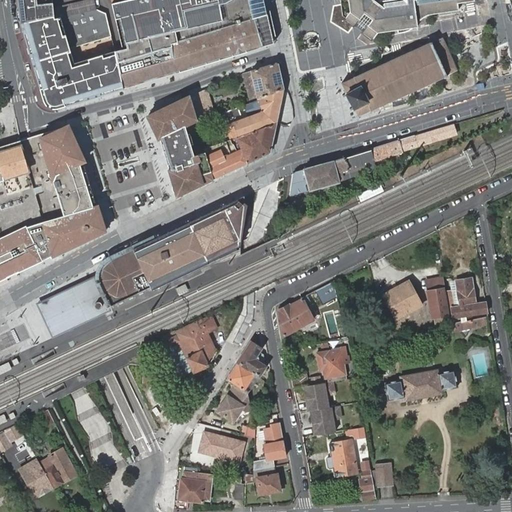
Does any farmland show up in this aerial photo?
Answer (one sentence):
No, the picture contains no farmland.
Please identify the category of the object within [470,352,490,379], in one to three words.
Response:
swimming pool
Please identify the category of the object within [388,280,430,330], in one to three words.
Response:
barn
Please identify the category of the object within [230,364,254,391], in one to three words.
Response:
house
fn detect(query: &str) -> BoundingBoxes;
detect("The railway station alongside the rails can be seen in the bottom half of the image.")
[0,240,276,425]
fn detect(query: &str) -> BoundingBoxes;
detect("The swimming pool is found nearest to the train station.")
[323,310,340,338]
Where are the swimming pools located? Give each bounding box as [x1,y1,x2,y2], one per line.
[470,352,490,379]
[323,310,340,338]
